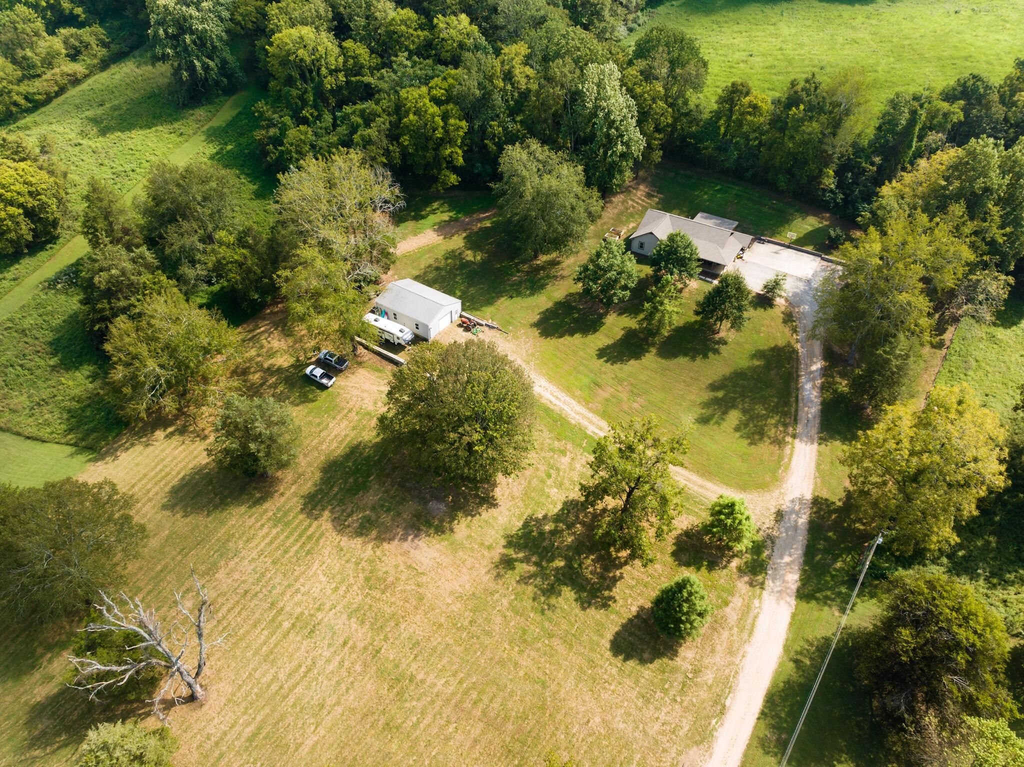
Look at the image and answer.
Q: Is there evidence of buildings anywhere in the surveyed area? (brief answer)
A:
Yes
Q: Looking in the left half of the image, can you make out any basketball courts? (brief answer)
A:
No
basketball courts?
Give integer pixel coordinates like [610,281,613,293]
[744,242,819,280]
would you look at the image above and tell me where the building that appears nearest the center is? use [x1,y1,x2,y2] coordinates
[374,278,462,341]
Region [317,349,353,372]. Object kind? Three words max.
truck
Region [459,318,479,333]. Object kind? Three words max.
work vehicle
